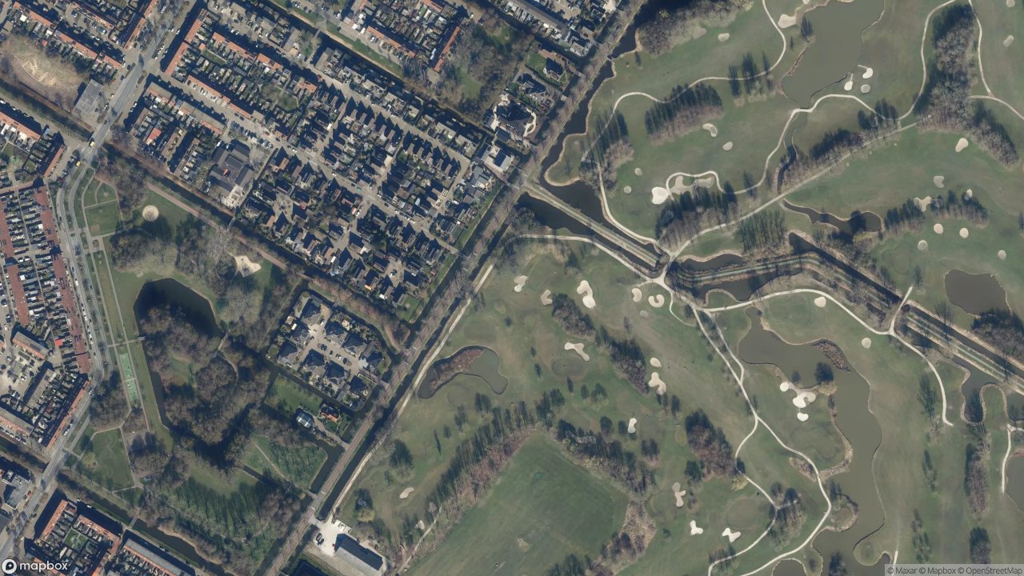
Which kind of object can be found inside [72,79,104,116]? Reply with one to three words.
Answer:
building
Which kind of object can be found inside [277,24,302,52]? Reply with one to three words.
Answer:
house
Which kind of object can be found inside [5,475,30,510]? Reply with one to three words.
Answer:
building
